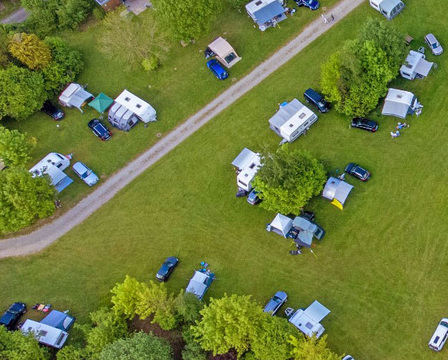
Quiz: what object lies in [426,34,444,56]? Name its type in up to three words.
car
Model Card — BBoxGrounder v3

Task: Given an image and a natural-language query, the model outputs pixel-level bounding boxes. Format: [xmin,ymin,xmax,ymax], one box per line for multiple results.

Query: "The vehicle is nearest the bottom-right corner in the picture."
[428,320,448,353]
